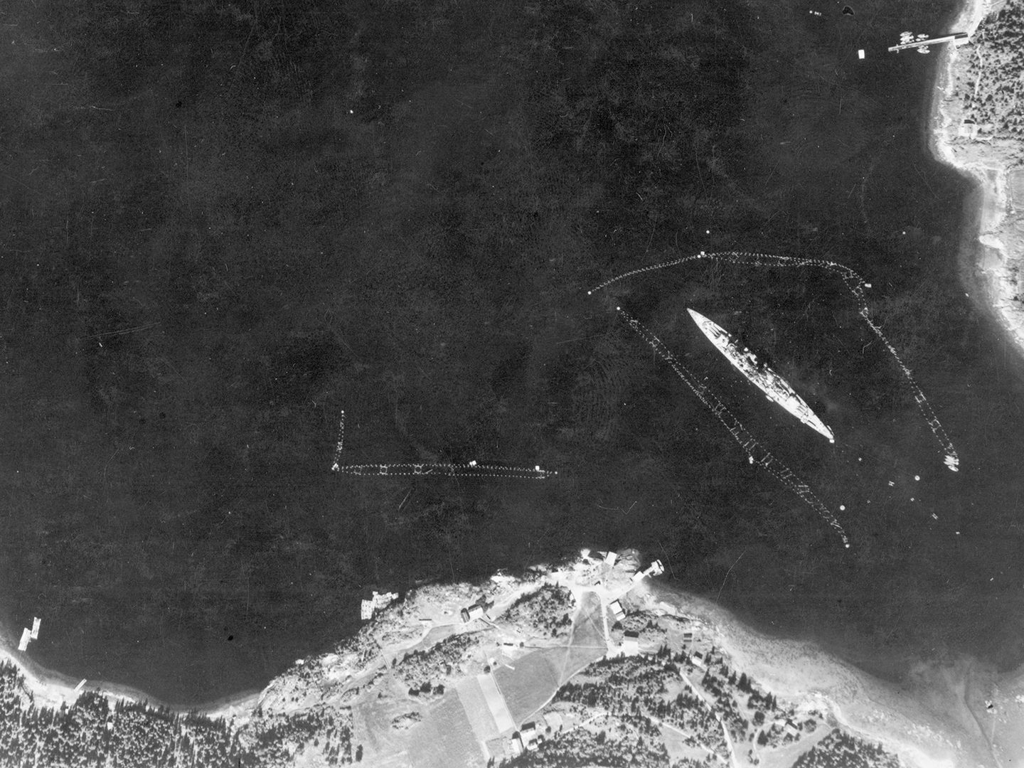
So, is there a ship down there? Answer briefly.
Yes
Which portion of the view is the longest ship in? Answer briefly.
right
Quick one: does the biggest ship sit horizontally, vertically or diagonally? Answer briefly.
diagonally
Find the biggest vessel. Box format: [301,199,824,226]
[687,308,832,439]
